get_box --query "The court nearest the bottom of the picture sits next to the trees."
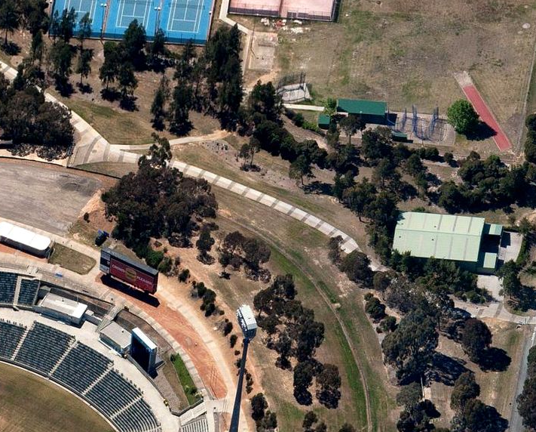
[249,32,277,68]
